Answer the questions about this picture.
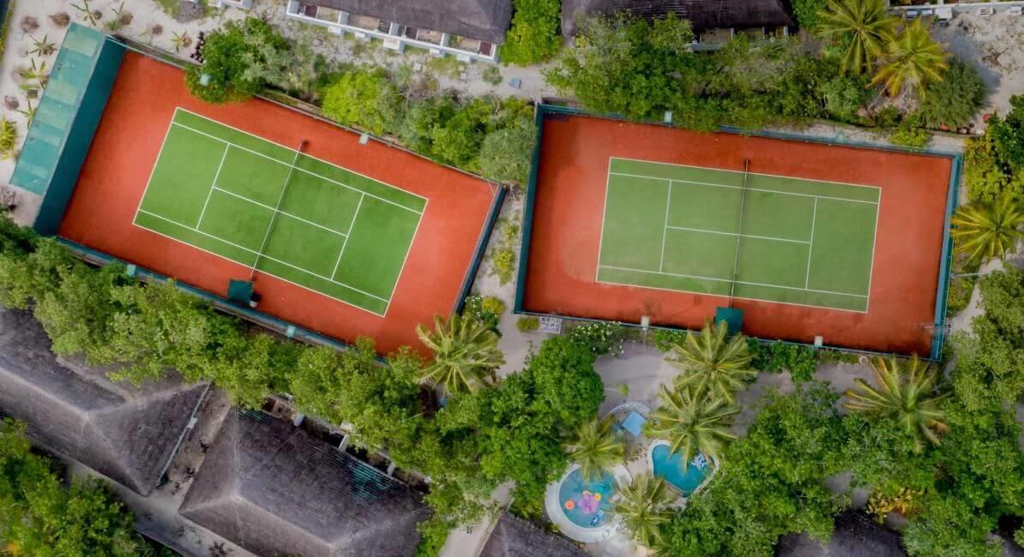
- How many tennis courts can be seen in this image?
2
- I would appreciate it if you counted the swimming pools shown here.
two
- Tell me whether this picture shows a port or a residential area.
residential area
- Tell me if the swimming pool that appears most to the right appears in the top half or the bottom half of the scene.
bottom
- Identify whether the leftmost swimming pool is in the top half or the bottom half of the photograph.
bottom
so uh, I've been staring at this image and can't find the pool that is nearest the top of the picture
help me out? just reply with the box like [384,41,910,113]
[649,439,717,500]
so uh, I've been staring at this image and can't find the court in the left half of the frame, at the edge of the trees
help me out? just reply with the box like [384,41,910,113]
[58,49,496,376]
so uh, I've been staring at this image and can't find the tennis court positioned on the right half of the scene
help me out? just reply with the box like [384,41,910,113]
[524,114,951,355]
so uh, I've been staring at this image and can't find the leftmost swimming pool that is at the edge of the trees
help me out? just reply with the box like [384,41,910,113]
[545,461,625,543]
